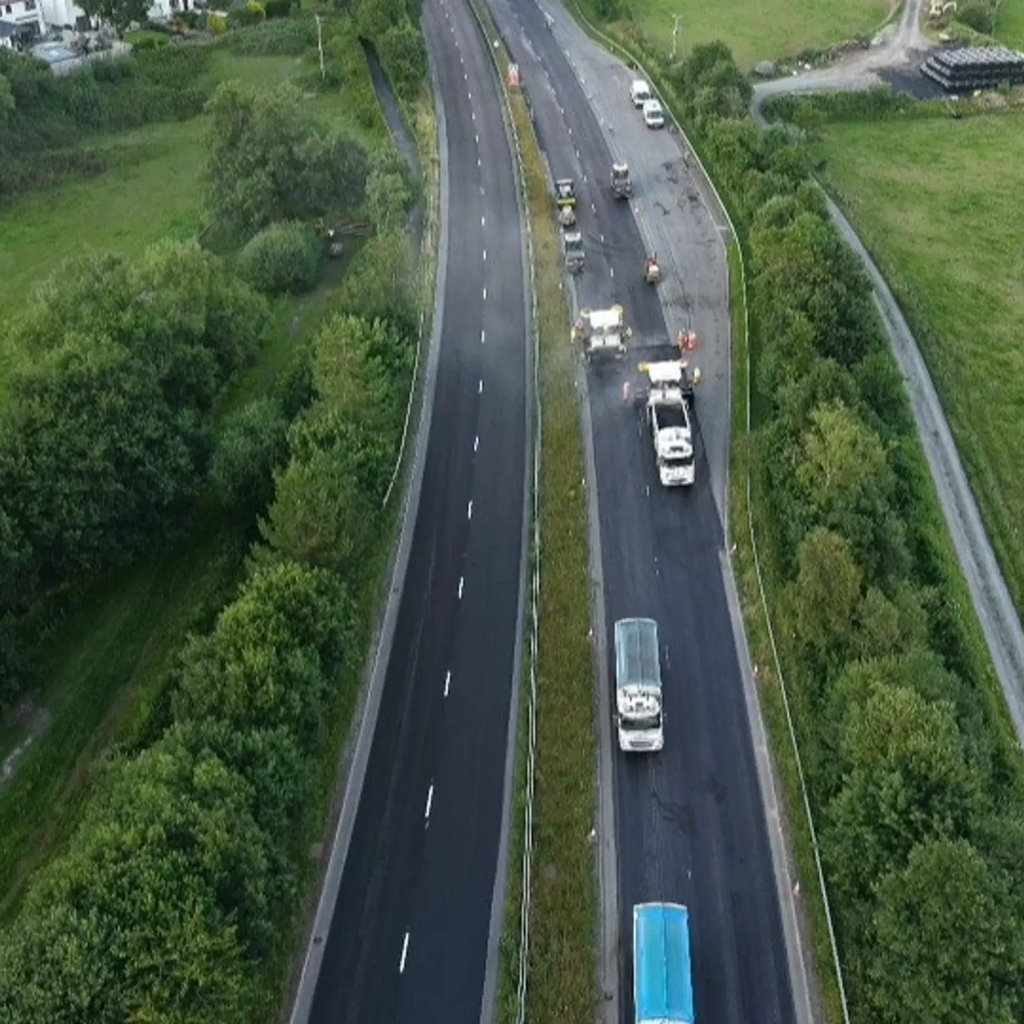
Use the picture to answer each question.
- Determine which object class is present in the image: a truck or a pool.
truck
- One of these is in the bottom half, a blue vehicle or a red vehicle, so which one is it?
blue vehicle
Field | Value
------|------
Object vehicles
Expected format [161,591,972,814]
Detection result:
[558,198,576,228]
[556,179,573,208]
[562,233,584,274]
[643,101,664,127]
[649,394,700,484]
[615,610,671,750]
[630,83,650,108]
[925,0,959,22]
[632,905,695,1024]
[641,252,663,282]
[609,165,629,198]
